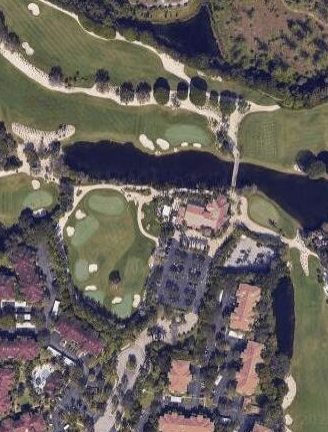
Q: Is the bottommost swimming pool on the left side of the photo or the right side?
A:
left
